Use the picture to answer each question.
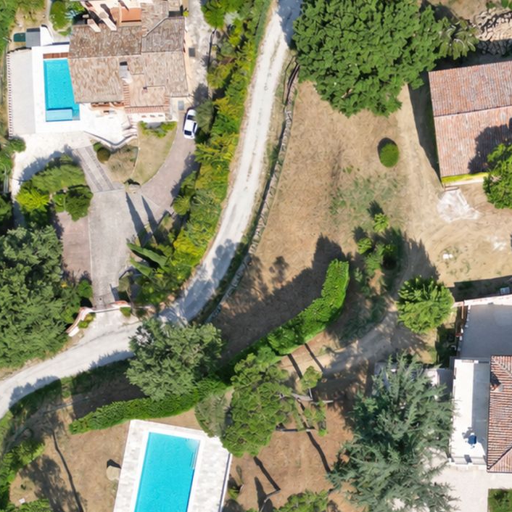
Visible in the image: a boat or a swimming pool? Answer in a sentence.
Visible in the photo is a swimming pool.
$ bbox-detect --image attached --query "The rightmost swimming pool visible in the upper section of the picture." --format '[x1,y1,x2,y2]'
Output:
[32,45,137,141]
